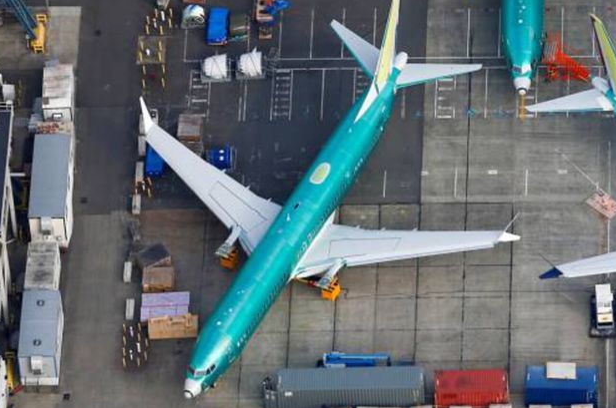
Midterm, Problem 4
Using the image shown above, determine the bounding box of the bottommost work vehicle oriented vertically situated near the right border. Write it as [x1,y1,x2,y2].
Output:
[589,275,616,341]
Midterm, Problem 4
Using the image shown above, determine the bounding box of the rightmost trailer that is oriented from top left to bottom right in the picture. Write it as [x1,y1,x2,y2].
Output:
[554,149,616,220]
